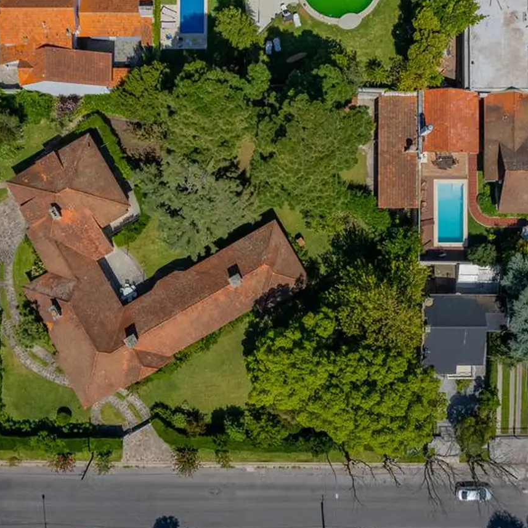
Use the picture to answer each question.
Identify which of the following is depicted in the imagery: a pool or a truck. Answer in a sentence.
The image shows a pool.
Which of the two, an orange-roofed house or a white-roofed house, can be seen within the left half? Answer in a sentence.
The feature located within the left half is an orange-roofed house.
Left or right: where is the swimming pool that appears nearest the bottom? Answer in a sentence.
The swimming pool that appears nearest the bottom appears in the right half of the scene.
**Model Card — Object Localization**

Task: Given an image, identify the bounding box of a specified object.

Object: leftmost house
[0,0,153,91]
